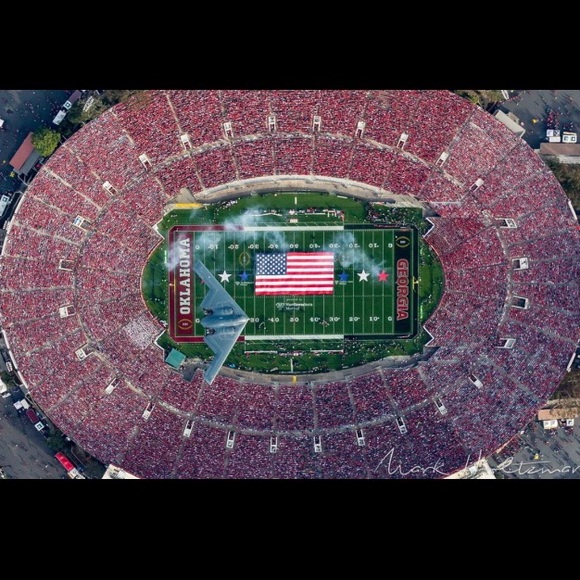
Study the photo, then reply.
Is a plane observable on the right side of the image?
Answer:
No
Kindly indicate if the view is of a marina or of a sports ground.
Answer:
sports ground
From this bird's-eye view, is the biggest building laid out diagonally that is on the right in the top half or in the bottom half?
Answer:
top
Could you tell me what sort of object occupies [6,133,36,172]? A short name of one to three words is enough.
building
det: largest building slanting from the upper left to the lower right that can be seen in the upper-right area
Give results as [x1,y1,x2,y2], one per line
[493,109,527,138]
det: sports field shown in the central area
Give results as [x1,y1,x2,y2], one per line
[167,221,422,345]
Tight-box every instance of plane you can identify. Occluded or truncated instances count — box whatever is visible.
[194,259,249,387]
